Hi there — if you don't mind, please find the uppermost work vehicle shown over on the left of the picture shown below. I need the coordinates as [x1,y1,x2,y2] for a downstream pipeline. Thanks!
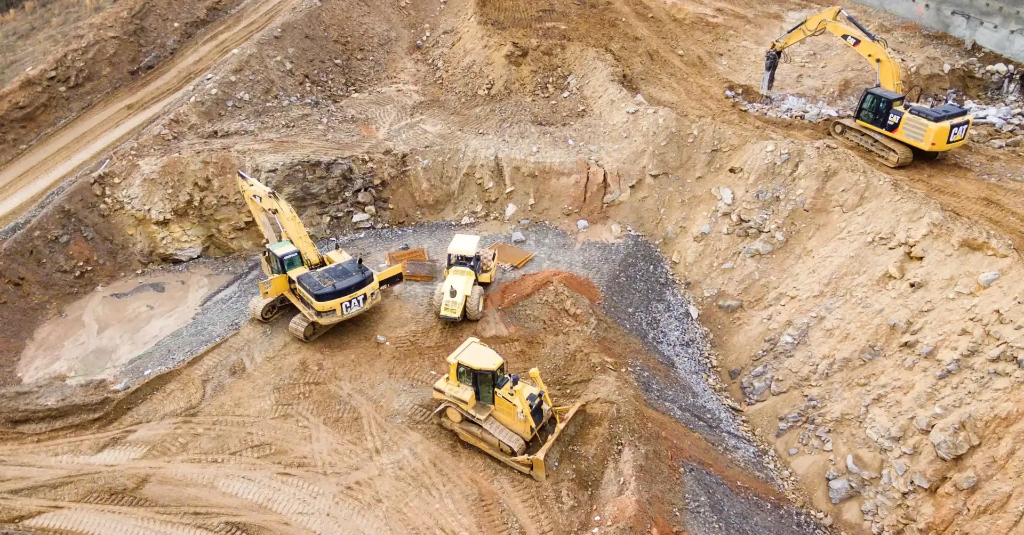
[233,169,404,345]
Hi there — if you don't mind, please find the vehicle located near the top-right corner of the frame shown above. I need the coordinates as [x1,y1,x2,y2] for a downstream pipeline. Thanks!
[763,5,972,164]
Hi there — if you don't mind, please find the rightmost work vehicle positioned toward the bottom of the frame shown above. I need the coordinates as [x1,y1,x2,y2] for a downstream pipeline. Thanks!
[428,335,586,483]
